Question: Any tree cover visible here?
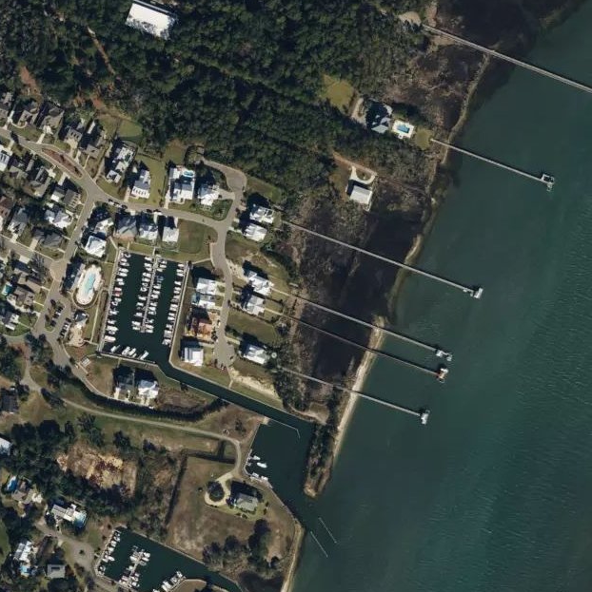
Yes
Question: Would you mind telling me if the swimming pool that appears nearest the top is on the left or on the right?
right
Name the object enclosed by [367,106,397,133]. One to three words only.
house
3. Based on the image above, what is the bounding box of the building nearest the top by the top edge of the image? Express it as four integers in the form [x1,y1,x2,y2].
[125,0,176,37]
